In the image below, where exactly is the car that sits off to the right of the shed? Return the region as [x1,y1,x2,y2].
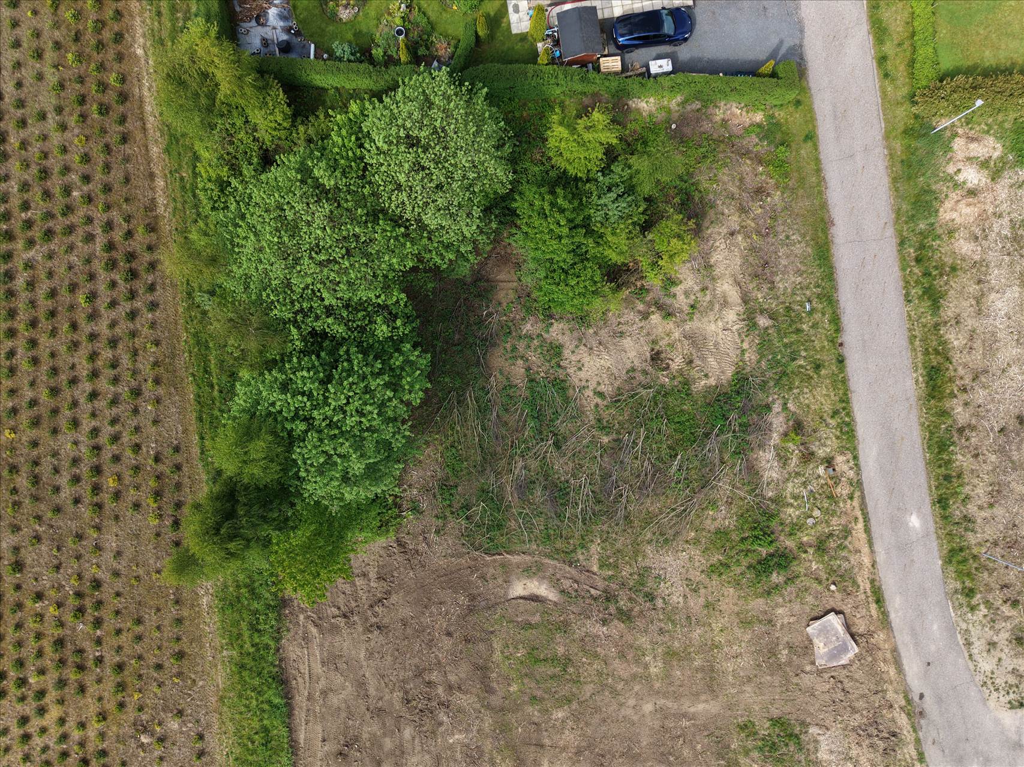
[611,4,693,53]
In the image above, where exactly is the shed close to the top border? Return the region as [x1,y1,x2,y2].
[556,4,603,72]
